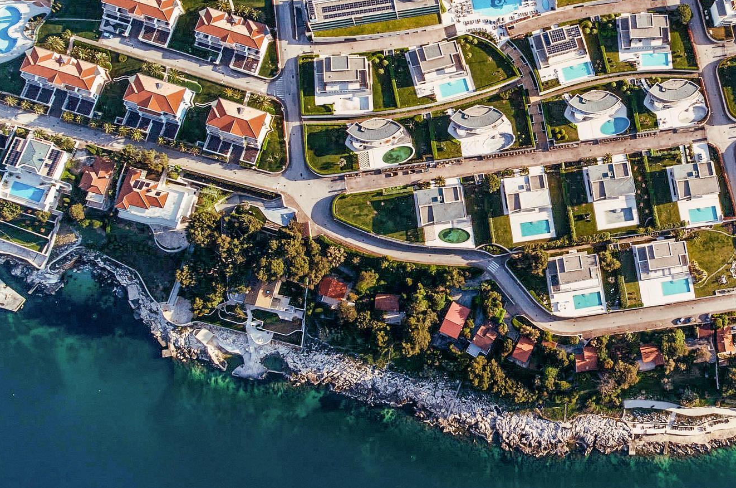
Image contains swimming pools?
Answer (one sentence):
Yes, there is a swimming pool in the image.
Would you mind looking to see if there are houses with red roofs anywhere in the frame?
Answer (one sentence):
Yes, a house with a red roof is visible in the scene.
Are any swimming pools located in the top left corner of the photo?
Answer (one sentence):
Yes, in the top left corner of the photo there is a swimming pool.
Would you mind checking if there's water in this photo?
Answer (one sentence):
Yes, some water is visible.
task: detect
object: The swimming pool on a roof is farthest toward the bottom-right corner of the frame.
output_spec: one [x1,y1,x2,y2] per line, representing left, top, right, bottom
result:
[660,273,690,293]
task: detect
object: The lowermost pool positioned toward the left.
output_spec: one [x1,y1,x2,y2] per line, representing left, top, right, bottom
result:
[8,179,46,205]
